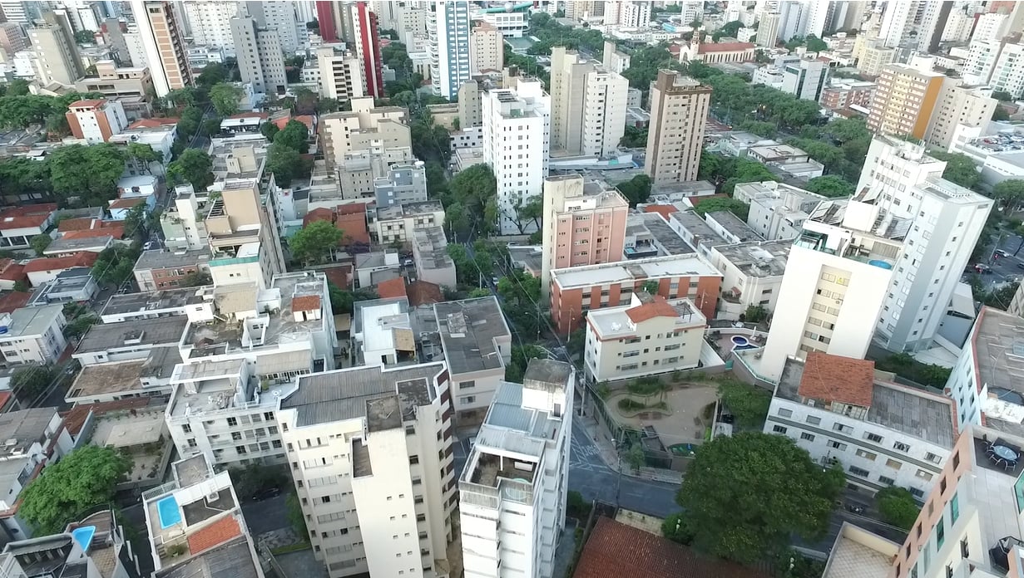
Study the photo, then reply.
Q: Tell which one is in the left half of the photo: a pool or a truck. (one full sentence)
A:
There is a pool in the left half of the photo.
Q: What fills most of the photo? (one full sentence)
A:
The largest share of the image is taken up by buildings.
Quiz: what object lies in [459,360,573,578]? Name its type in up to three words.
building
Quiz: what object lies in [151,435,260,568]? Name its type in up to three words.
house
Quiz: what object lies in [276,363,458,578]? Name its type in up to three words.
building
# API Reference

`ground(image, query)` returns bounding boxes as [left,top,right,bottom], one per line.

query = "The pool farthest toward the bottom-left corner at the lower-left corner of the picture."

[71,524,97,550]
